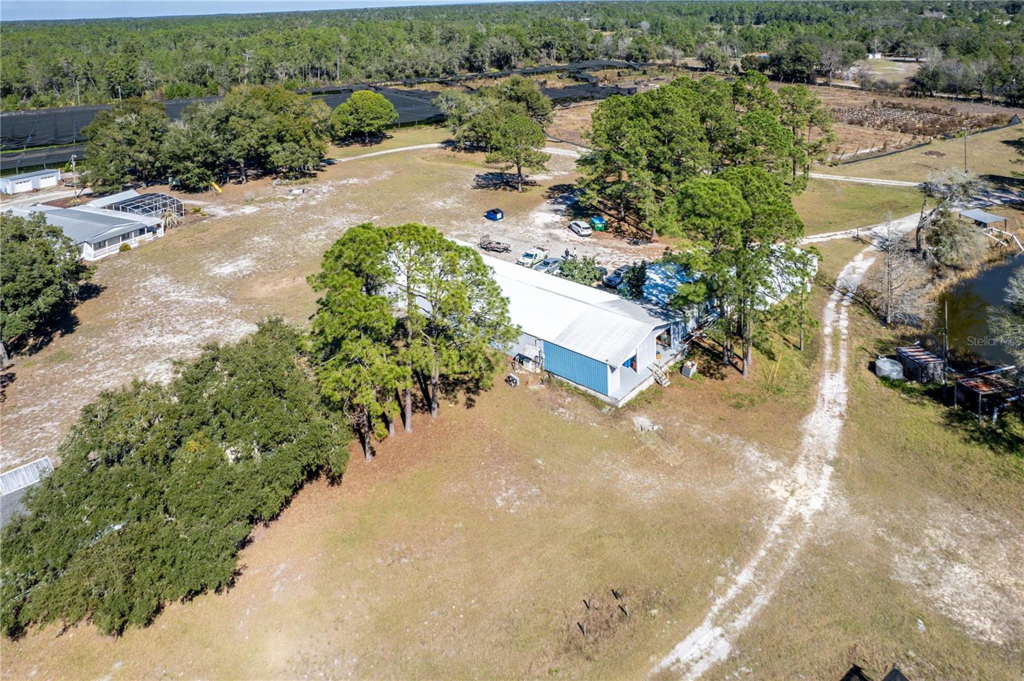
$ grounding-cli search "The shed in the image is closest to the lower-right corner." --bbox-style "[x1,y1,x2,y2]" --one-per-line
[893,342,948,383]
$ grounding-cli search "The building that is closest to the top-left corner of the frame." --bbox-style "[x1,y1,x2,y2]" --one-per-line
[0,164,60,194]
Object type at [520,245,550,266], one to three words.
truck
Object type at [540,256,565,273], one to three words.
car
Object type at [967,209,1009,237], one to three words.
building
